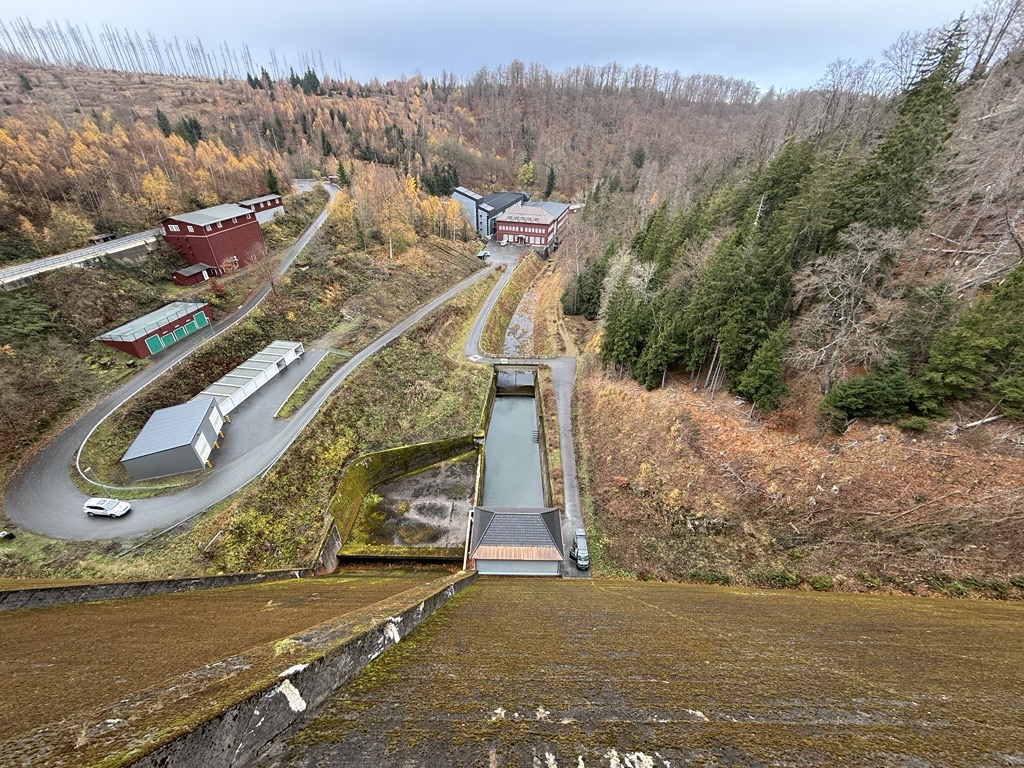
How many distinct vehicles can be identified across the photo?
2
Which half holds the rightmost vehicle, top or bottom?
bottom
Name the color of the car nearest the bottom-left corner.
white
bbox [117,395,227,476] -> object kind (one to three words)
building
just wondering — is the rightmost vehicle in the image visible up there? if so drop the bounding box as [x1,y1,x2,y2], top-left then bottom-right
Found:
[569,532,593,569]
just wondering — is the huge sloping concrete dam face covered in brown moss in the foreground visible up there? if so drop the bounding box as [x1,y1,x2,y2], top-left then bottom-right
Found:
[0,566,1024,768]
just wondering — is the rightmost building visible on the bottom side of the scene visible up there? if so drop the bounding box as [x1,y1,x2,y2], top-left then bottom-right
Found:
[469,507,568,575]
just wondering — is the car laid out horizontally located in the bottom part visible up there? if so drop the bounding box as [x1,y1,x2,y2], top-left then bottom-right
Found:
[78,497,129,522]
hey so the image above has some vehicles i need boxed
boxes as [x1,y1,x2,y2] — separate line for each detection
[78,497,129,522]
[569,532,593,569]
